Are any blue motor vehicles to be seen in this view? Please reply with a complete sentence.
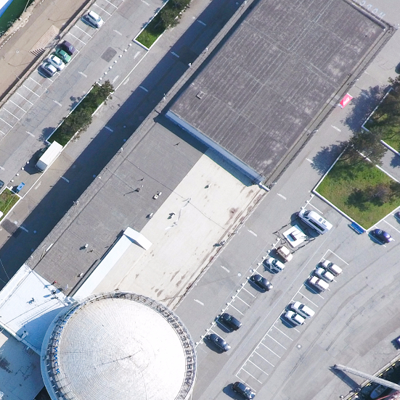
Yes, the image includes a blue motor vehicle.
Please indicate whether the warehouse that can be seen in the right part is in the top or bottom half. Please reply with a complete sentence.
It is in the top half that the warehouse that can be seen in the right part appears.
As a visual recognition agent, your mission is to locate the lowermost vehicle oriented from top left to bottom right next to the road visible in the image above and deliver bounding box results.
[232,382,255,400]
